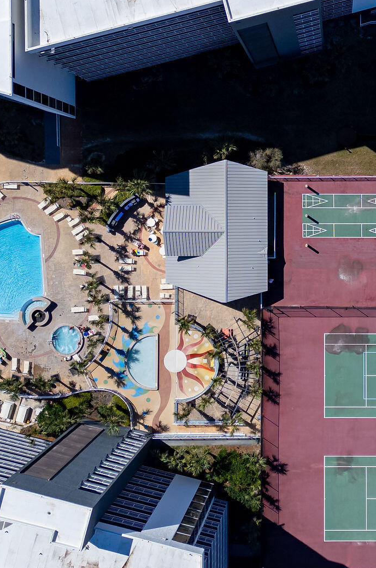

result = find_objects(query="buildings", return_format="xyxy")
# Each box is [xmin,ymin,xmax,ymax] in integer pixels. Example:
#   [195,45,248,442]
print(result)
[162,160,275,302]
[0,427,227,568]
[0,0,376,118]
